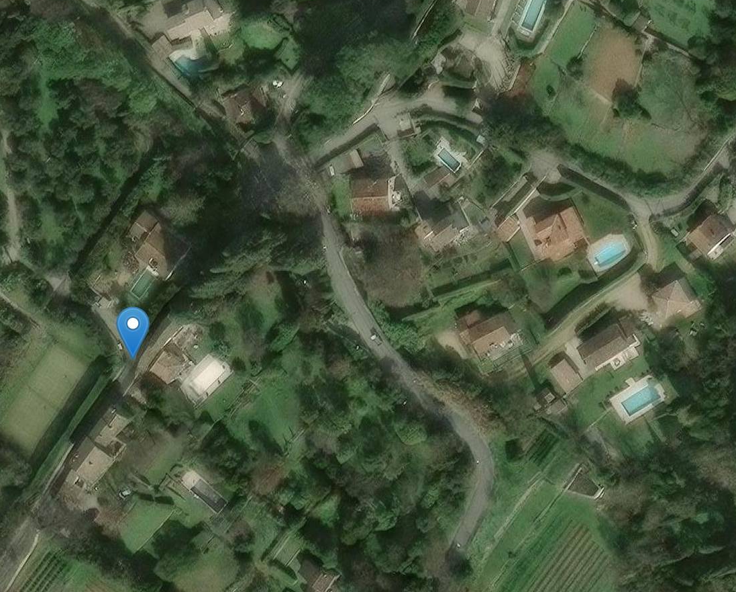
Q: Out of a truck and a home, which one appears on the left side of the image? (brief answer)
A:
home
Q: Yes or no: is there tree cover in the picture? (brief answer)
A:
Yes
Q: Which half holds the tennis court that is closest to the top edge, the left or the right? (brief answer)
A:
left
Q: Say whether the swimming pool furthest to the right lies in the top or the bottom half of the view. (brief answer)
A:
bottom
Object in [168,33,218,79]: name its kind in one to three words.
swimming pool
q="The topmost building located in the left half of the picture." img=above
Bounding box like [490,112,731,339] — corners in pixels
[164,0,225,43]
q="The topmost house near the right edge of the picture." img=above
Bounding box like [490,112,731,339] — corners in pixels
[686,211,735,260]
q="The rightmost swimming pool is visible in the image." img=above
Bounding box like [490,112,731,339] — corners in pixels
[610,375,666,424]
